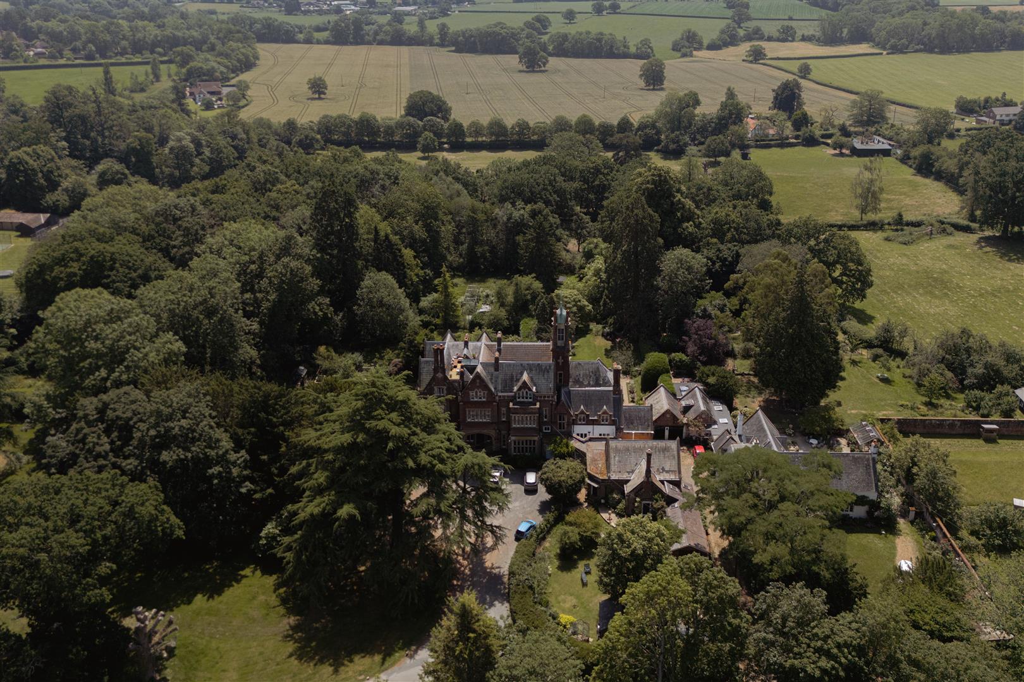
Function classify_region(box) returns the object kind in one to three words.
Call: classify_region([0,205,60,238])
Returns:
building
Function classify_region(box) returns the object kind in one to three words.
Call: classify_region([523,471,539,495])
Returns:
car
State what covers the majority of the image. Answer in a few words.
trees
